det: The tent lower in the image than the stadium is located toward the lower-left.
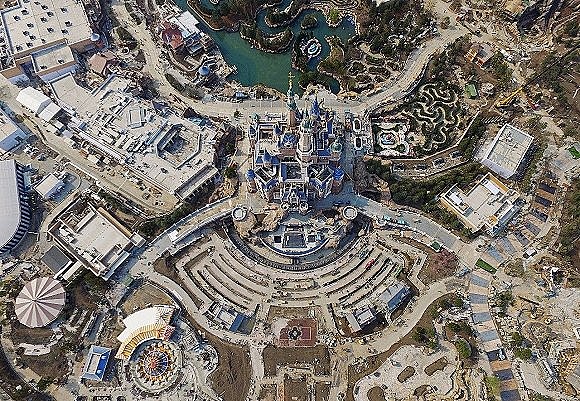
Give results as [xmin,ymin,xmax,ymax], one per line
[15,277,67,328]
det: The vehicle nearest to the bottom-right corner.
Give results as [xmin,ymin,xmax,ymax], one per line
[496,347,508,362]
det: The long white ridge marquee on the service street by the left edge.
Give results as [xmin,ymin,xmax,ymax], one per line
[16,87,52,115]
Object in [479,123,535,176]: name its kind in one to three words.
building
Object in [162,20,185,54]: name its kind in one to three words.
house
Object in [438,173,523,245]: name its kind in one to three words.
building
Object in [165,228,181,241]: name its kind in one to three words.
vehicle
